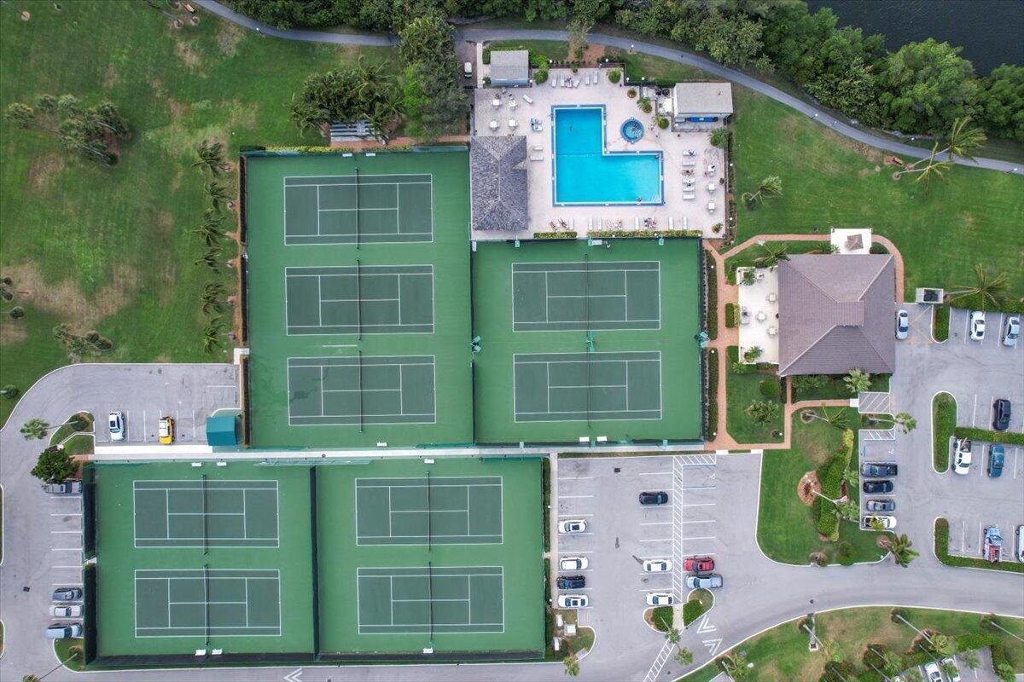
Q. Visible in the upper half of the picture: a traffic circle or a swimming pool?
swimming pool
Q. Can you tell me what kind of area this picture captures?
sports ground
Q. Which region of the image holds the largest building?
right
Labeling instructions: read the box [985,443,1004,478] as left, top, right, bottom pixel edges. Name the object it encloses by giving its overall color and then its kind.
blue car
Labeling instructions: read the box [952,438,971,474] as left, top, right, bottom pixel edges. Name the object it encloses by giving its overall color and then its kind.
white vehicle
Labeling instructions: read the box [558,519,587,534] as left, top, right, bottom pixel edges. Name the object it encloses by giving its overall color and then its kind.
white car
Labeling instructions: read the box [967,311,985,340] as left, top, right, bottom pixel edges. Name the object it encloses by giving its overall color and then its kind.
white car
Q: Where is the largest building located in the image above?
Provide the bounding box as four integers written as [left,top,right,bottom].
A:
[778,253,896,376]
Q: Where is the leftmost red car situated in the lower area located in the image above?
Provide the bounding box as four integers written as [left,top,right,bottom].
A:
[682,557,714,572]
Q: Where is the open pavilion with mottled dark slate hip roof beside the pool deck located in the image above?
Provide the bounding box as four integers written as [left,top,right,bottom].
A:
[471,132,528,230]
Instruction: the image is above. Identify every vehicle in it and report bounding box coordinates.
[642,558,672,573]
[464,64,472,80]
[44,480,83,496]
[861,480,892,494]
[51,603,84,619]
[682,557,714,572]
[967,311,985,340]
[894,309,910,339]
[1001,316,1019,347]
[864,499,895,513]
[558,594,589,609]
[559,556,588,571]
[859,463,898,478]
[992,399,1010,430]
[157,415,175,444]
[638,491,668,505]
[686,572,723,589]
[110,411,127,440]
[45,622,83,639]
[556,574,586,590]
[645,591,673,607]
[558,519,587,534]
[54,586,85,602]
[952,438,971,474]
[985,443,1004,478]
[982,525,1002,562]
[924,660,944,682]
